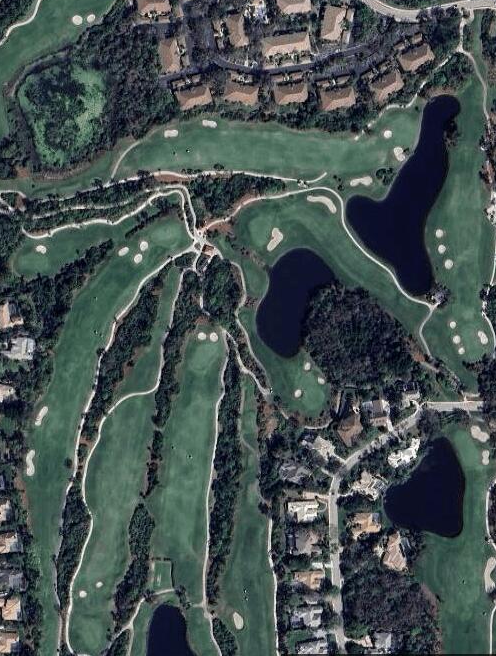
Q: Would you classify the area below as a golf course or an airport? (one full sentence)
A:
The area seen from above is a golf course.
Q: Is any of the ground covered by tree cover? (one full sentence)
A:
Yes, there's tree cover in this view.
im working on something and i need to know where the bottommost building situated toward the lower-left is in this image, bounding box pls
[0,632,24,652]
